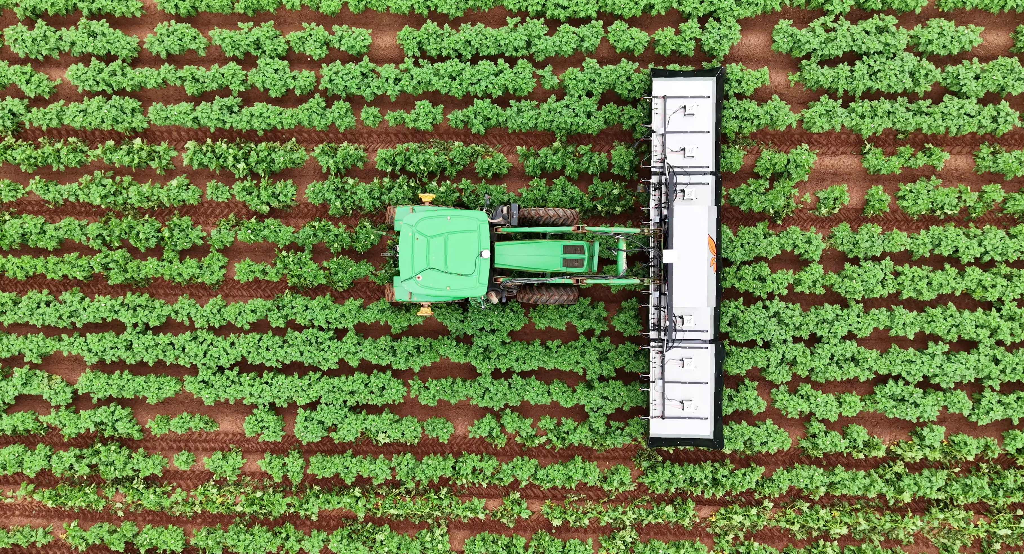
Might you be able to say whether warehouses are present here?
No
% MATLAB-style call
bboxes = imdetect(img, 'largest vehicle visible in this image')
[378,192,599,316]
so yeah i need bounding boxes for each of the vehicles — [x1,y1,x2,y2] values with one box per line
[489,224,667,291]
[378,192,599,316]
